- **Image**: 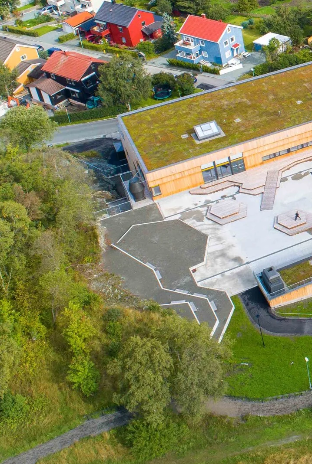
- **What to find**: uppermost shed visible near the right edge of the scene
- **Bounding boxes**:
[255,25,300,55]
